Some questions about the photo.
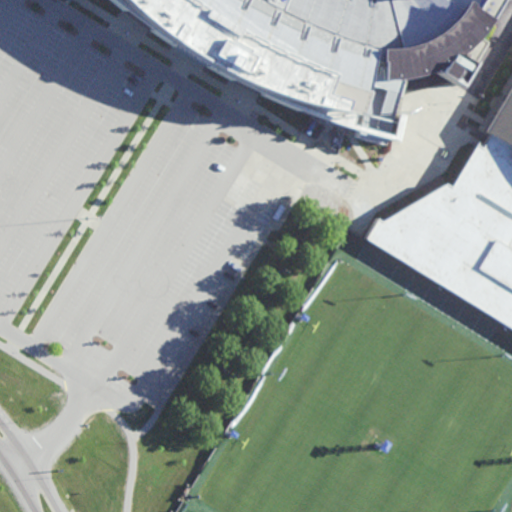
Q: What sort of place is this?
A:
sports ground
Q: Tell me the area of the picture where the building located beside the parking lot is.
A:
right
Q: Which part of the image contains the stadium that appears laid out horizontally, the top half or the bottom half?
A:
top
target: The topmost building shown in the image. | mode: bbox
[364,78,512,330]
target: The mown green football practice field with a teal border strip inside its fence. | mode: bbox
[179,250,512,512]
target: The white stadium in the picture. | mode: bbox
[108,0,512,149]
